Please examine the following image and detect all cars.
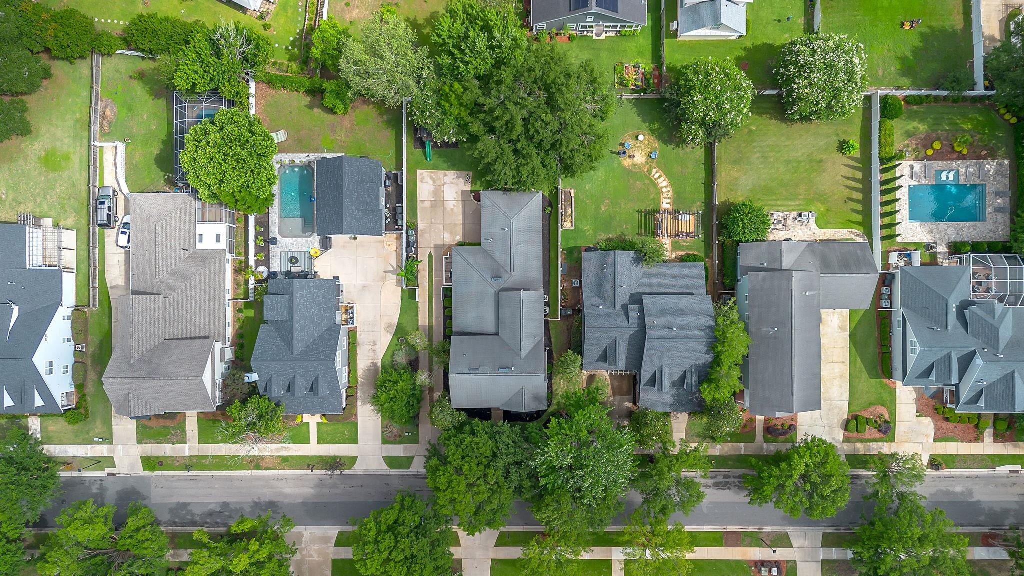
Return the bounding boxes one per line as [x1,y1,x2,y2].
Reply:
[94,186,117,227]
[113,210,130,249]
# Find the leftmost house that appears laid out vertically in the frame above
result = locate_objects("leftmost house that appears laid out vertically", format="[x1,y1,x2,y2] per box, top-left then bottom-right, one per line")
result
[0,223,82,417]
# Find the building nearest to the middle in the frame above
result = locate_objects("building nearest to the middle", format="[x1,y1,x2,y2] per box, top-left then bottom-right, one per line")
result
[443,191,547,412]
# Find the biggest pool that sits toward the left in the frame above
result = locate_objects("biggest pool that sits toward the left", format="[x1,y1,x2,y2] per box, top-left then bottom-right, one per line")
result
[278,163,315,237]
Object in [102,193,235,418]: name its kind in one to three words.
house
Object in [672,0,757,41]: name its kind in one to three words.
building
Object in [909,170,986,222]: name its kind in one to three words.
swimming pool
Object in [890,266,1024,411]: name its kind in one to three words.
house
